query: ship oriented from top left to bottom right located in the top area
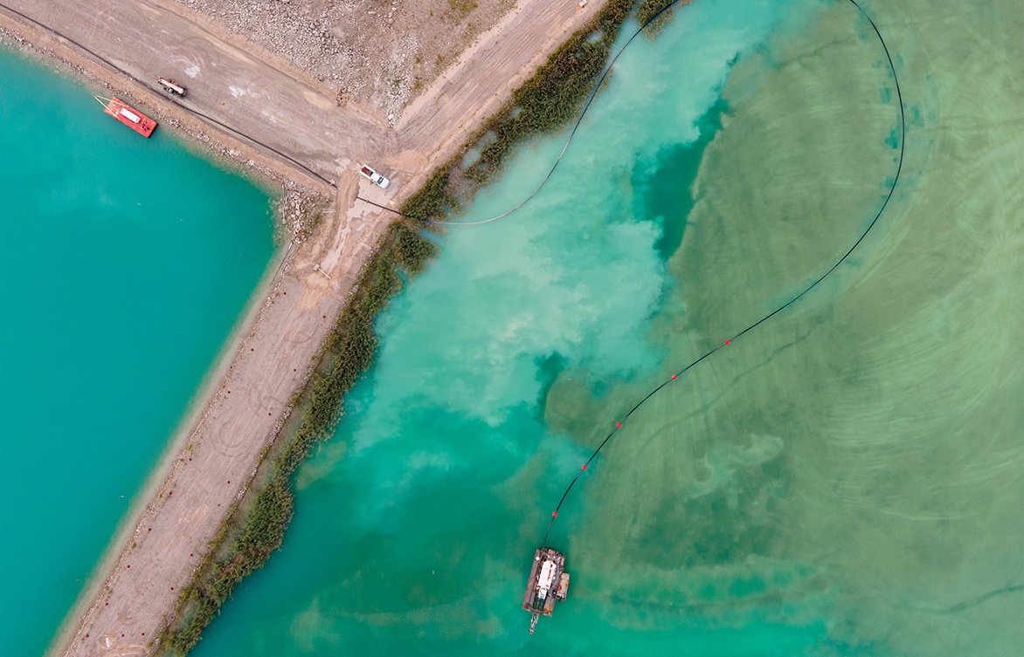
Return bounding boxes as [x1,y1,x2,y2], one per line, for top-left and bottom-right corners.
[92,94,160,139]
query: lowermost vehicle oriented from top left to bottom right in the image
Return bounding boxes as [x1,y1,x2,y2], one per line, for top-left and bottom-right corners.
[359,163,391,191]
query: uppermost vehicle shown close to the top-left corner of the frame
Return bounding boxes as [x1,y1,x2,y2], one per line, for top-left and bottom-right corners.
[155,77,189,100]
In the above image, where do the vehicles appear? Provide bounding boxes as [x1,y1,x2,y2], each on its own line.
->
[359,163,391,191]
[155,77,189,100]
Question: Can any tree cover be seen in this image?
No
